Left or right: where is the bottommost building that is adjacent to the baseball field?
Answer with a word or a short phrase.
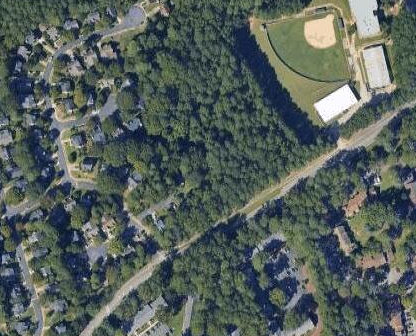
right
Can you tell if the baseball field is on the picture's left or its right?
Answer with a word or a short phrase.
right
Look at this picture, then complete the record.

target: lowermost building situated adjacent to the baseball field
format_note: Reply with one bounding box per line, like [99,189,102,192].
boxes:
[314,84,358,122]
